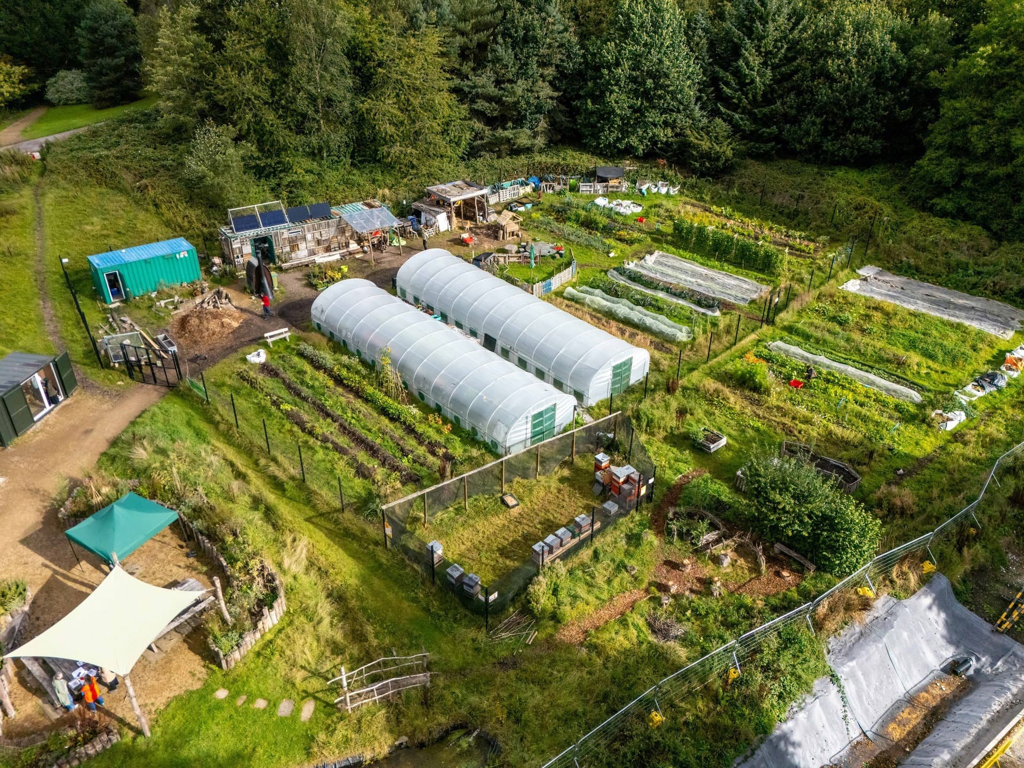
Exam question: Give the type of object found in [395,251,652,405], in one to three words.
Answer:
greenhouse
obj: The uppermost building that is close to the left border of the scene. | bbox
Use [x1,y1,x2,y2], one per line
[0,347,81,447]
